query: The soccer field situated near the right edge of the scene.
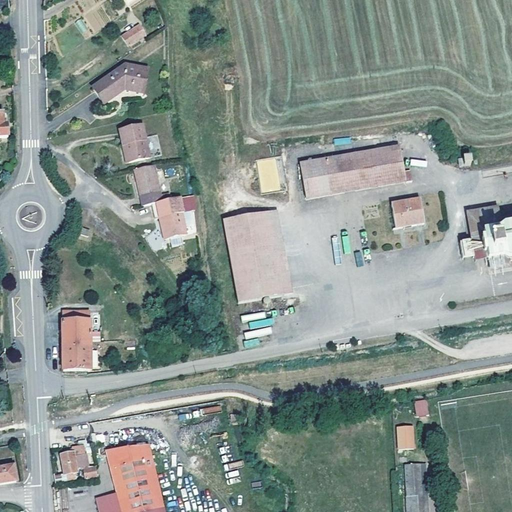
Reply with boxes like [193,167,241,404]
[443,392,512,512]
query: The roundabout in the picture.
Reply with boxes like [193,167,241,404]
[16,202,46,232]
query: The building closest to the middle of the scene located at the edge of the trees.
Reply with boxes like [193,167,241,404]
[222,209,292,306]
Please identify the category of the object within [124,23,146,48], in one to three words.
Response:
house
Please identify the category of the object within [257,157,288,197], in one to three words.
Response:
building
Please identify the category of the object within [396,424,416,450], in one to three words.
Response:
shed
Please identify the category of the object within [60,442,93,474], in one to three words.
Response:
house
